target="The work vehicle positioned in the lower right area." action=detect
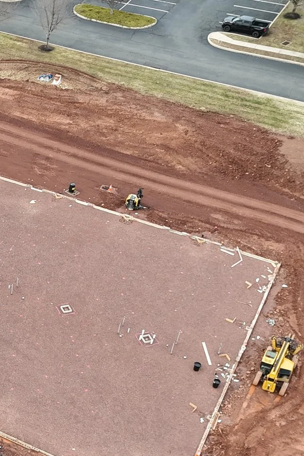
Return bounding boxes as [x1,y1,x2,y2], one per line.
[255,335,304,398]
